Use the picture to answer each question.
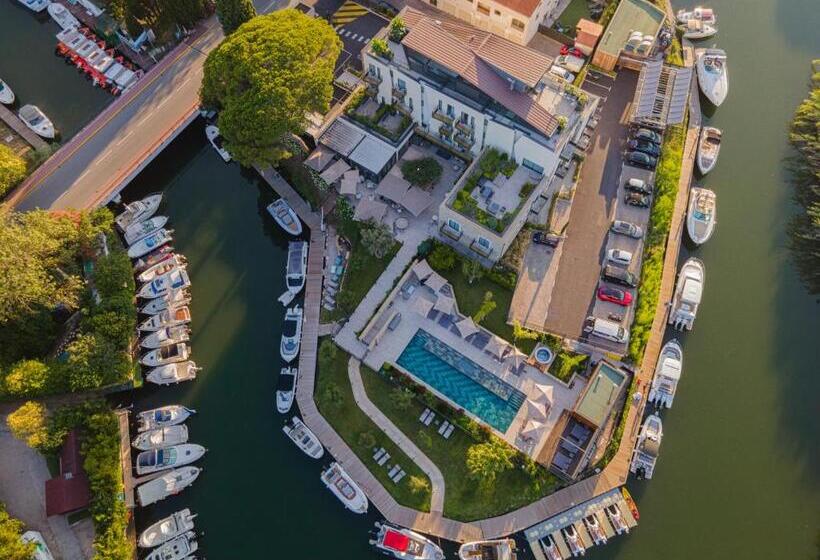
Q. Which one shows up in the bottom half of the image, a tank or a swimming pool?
swimming pool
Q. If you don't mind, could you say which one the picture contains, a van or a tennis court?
van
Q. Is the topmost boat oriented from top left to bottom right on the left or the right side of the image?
left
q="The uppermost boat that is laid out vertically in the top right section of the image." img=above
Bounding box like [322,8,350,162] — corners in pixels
[696,45,730,109]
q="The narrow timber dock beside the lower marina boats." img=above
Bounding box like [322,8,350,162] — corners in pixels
[117,408,138,560]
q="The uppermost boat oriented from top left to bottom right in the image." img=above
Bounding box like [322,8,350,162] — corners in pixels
[46,0,83,30]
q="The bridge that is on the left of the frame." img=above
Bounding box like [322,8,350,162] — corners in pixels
[0,0,323,300]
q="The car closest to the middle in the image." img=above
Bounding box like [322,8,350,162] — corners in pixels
[533,229,562,249]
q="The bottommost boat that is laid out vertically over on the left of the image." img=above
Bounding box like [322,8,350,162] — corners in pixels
[276,365,298,416]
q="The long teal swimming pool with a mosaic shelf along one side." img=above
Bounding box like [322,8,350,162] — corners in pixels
[392,324,529,437]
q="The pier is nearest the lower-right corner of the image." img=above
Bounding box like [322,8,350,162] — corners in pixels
[524,489,637,560]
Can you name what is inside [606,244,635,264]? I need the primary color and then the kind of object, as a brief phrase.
white car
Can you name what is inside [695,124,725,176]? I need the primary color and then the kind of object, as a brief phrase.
white boat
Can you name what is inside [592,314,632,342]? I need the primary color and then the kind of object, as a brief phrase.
white van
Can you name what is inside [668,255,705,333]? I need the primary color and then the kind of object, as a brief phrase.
white boat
